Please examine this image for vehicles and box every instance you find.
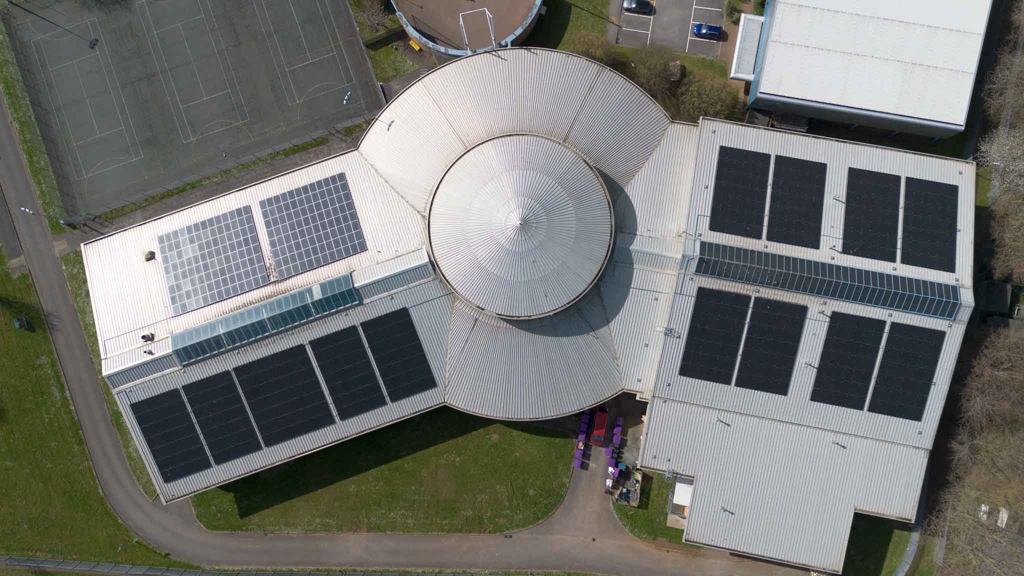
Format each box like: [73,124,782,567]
[694,24,722,40]
[592,408,609,443]
[624,0,654,13]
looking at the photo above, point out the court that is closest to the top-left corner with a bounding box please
[10,0,368,206]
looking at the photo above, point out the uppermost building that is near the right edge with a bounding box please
[725,0,989,145]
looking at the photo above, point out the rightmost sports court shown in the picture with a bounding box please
[393,0,536,49]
